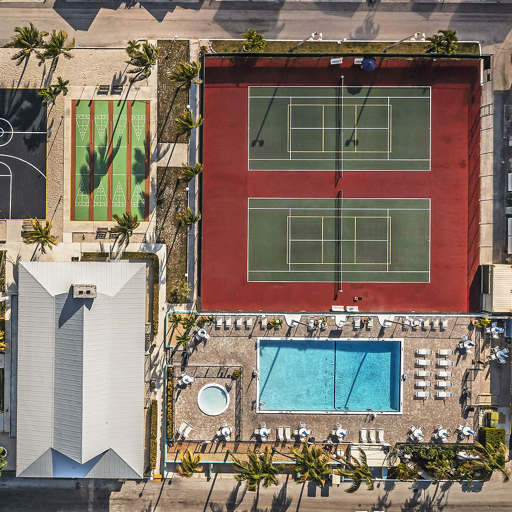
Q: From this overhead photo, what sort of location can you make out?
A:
sports ground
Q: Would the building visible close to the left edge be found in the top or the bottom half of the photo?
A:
bottom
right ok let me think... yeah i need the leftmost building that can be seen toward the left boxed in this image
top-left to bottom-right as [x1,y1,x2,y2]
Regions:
[11,261,152,479]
